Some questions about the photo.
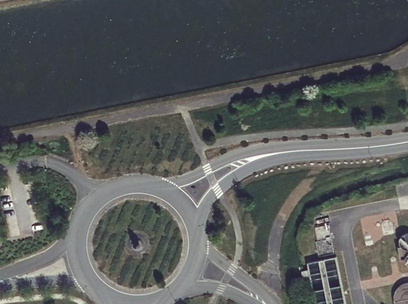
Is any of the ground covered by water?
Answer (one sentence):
Yes, some water is visible.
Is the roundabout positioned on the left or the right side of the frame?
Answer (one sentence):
You can find the roundabout on the left side of the picture.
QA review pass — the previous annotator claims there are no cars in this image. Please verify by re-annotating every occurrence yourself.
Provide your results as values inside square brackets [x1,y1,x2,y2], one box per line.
[24,199,36,206]
[31,225,42,232]
[2,202,14,209]
[3,210,15,216]
[0,196,12,203]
